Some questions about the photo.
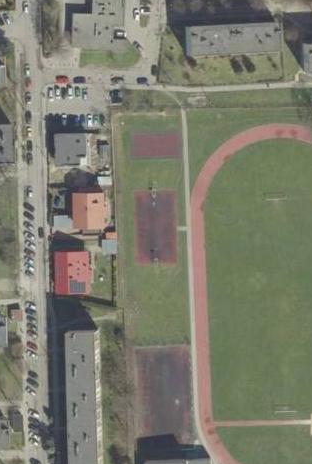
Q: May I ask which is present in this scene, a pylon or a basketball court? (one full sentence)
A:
There is a basketball court in the scene.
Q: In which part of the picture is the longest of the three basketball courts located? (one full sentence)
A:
The longest of the three basketball courts sits in the bottom section of the image.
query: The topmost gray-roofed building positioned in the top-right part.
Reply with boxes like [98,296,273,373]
[186,22,282,59]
